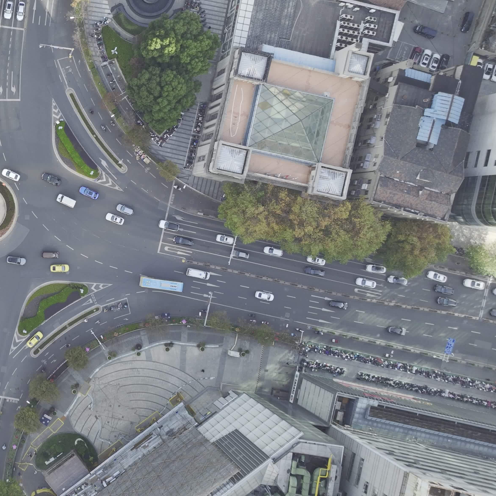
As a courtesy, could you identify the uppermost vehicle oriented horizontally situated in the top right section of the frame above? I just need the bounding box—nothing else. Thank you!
[413,24,442,39]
